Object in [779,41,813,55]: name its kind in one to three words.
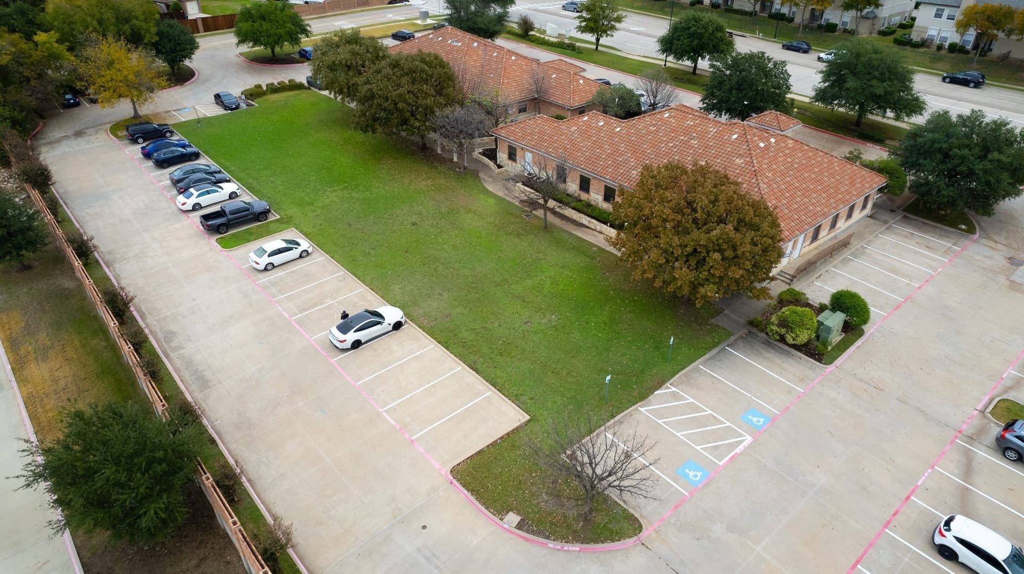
car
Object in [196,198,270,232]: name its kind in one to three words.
truck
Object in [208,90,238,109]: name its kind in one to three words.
car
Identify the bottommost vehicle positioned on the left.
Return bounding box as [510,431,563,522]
[327,304,406,350]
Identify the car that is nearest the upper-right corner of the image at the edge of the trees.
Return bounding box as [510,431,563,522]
[939,71,986,89]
